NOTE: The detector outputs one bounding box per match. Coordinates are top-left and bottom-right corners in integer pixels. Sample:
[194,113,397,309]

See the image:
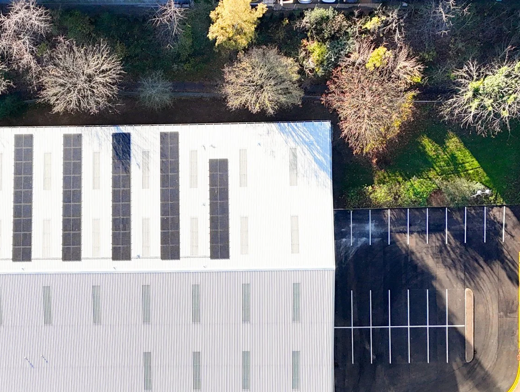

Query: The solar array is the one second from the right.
[160,132,180,259]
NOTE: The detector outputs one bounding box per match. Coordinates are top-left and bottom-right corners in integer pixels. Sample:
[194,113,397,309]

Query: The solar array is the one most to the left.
[10,134,35,260]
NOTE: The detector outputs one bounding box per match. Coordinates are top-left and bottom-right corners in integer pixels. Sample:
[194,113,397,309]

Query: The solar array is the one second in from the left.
[61,133,83,260]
